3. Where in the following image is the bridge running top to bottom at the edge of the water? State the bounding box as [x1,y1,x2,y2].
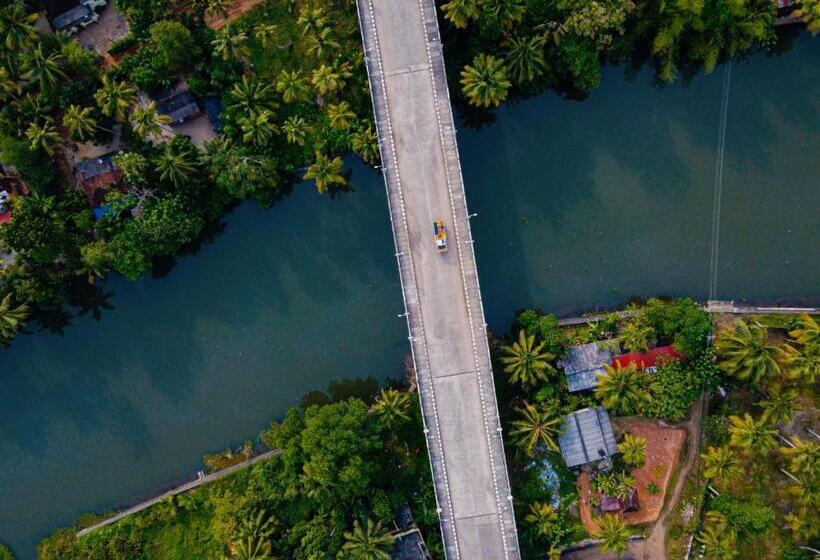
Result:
[356,0,521,560]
